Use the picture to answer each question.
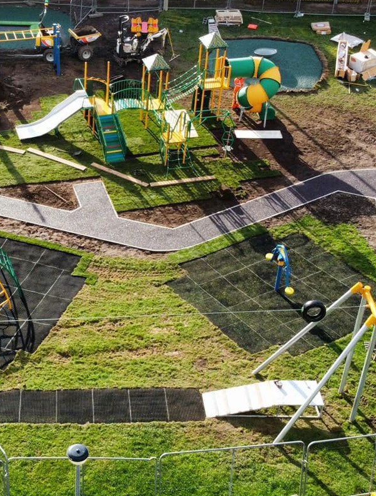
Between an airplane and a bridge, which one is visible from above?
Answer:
bridge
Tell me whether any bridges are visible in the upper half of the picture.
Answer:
Yes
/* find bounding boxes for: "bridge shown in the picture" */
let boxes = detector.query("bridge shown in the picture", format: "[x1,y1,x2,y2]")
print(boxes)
[160,64,207,106]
